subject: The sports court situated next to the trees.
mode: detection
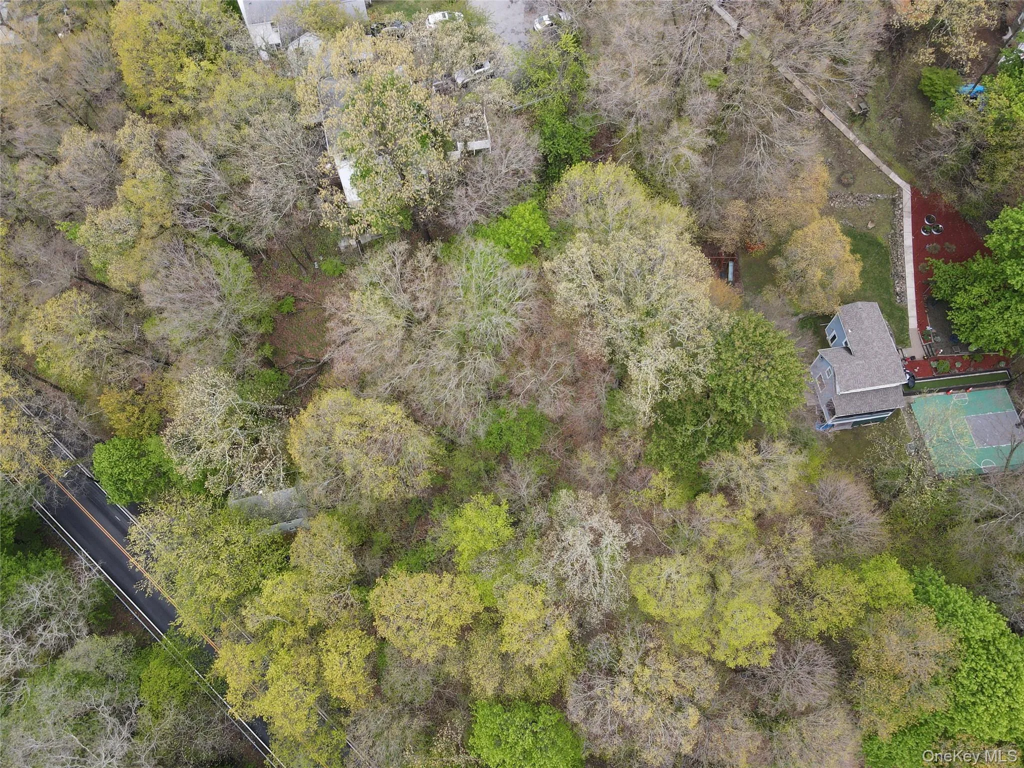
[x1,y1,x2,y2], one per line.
[911,388,1024,475]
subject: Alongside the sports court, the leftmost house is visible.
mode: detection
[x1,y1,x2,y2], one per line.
[808,302,908,431]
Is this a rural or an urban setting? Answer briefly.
rural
